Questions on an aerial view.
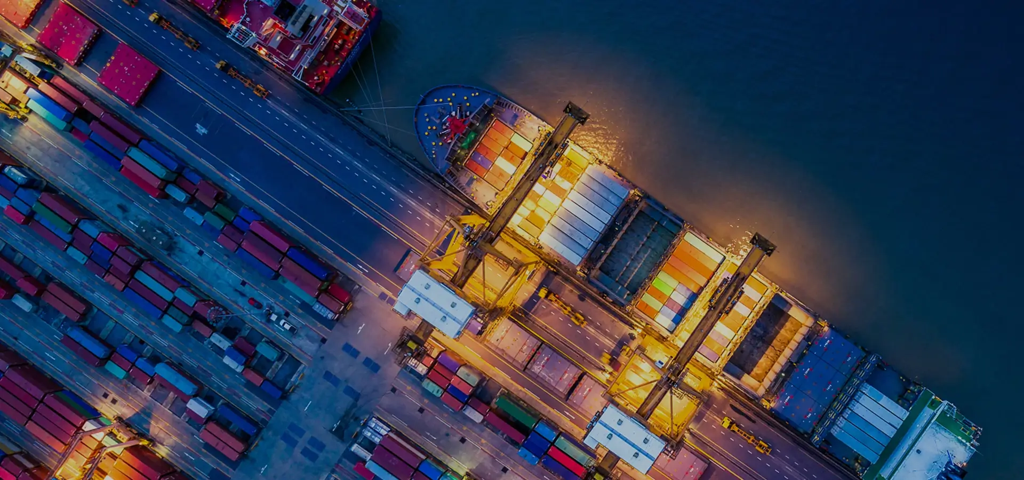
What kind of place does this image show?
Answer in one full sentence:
This image shows a port.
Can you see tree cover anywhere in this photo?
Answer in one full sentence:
No, there's no tree cover in this view.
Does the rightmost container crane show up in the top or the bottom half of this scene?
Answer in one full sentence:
The bottom half of the photo is where the rightmost container crane is.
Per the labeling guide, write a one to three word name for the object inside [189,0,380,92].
ship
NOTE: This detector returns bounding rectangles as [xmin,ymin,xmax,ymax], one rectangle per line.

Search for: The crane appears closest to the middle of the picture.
[386,98,590,361]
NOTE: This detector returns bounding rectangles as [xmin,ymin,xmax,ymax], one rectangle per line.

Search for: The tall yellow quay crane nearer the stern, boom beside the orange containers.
[578,232,783,480]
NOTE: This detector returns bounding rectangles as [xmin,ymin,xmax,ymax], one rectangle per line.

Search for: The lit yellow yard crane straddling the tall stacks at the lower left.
[51,417,152,480]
